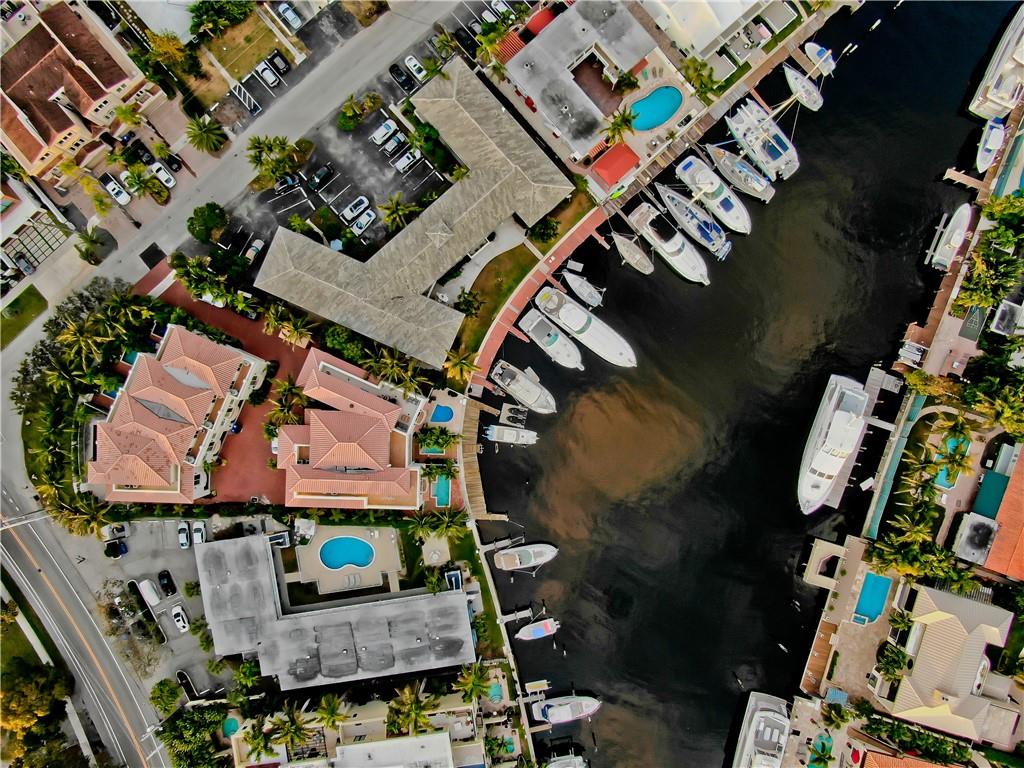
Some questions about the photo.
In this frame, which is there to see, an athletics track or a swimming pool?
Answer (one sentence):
Visible in the photo is a swimming pool.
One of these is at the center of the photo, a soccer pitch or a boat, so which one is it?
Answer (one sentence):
It is a boat that can be seen at the center of the photo.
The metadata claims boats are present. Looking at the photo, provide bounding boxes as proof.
[487,349,556,412]
[648,180,734,256]
[668,151,750,232]
[929,205,975,271]
[506,416,525,424]
[514,614,559,638]
[725,102,796,182]
[557,269,601,306]
[541,748,592,768]
[485,426,536,444]
[529,276,637,366]
[974,115,1010,171]
[604,222,648,272]
[798,369,873,515]
[698,125,774,206]
[486,538,559,574]
[780,49,838,112]
[728,691,789,768]
[803,43,833,81]
[960,0,1024,125]
[512,306,585,371]
[711,250,730,269]
[624,196,710,286]
[532,690,602,725]
[508,408,526,416]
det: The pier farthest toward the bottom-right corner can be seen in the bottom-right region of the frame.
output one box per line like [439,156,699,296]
[802,539,844,589]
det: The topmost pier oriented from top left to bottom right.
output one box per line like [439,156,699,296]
[791,48,820,81]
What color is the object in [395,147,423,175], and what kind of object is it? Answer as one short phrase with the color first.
white car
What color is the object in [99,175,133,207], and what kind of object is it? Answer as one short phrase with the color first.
white truck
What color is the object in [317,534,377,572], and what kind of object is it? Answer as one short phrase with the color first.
blue swimming pool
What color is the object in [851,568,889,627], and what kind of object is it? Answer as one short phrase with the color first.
blue swimming pool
